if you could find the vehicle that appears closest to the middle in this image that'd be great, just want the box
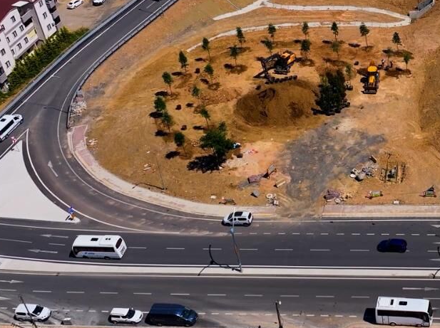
[221,209,254,226]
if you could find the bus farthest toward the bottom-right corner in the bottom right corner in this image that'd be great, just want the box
[373,296,431,326]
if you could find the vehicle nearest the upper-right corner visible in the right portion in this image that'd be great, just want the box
[362,58,379,91]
